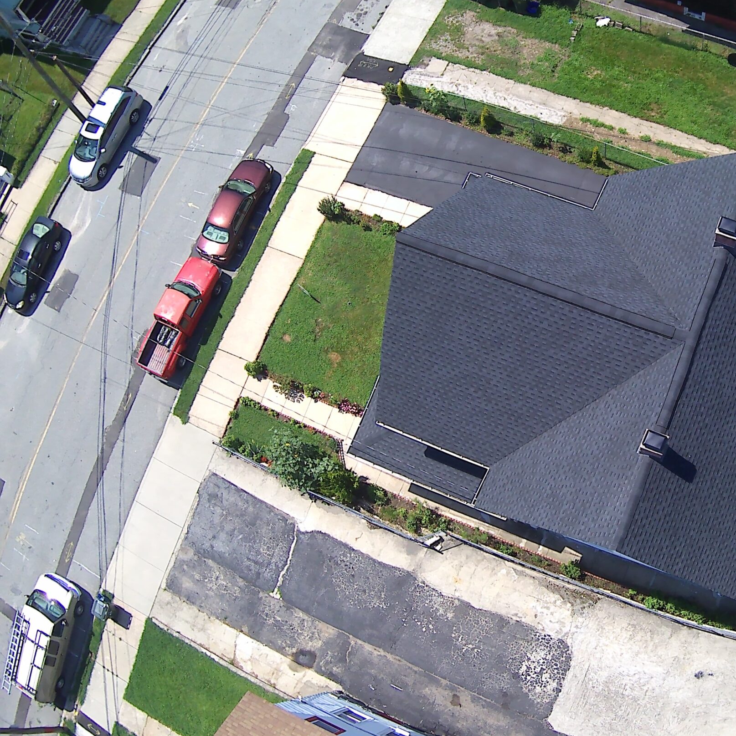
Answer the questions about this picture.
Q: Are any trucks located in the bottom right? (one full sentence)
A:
No, there is no truck in the bottom right.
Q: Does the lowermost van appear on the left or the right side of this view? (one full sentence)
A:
It is on the left.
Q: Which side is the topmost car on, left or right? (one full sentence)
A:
The topmost car is on the left side of the image.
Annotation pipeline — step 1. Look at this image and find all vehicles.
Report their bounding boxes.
[0,218,69,311]
[190,158,277,267]
[0,578,88,709]
[64,81,146,188]
[126,256,223,381]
